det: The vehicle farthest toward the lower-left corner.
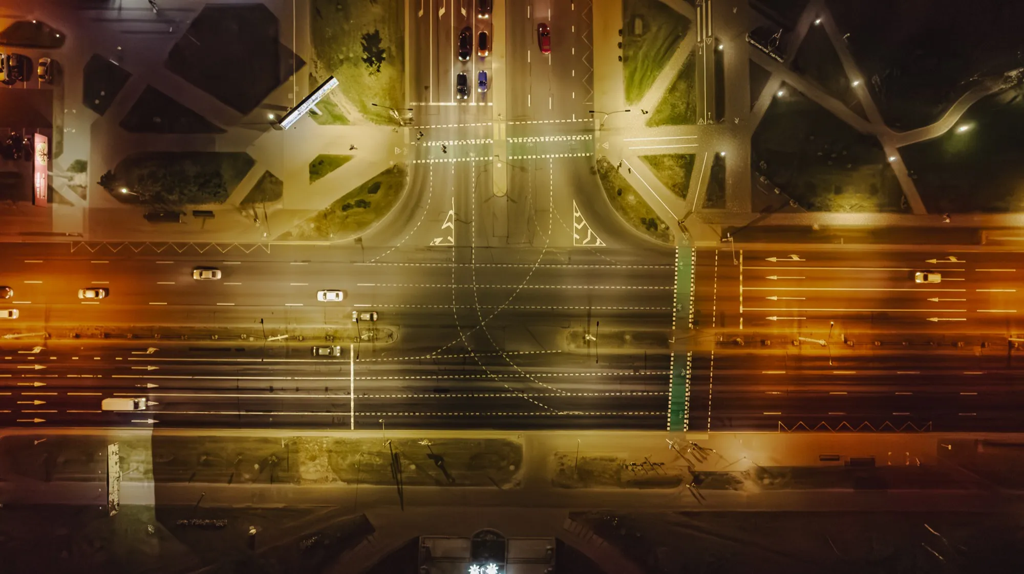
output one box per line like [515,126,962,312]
[99,397,146,412]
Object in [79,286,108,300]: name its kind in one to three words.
car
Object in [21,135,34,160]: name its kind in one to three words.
vehicle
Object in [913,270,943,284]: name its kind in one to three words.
car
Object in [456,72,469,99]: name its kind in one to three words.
vehicle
